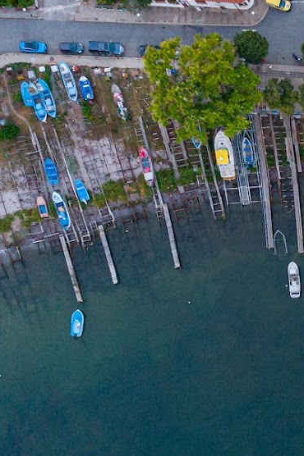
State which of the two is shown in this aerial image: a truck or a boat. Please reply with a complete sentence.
This aerial view contains a boat.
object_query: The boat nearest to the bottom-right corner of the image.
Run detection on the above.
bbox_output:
[286,261,299,299]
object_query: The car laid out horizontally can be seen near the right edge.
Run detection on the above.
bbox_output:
[264,0,293,14]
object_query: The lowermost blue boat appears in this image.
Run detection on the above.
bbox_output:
[70,309,84,341]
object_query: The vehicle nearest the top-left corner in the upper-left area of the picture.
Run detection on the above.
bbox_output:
[20,39,50,55]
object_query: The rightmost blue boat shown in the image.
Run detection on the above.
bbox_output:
[242,137,255,169]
